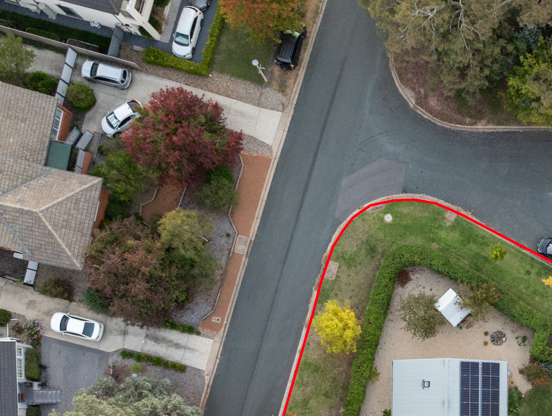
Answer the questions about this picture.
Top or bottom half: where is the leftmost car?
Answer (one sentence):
The leftmost car sits in the bottom half of the picture.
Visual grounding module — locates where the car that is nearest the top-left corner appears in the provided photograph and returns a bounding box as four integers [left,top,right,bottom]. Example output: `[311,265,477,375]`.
[80,59,135,94]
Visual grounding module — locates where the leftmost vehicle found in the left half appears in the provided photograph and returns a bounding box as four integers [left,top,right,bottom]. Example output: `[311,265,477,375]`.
[49,312,107,342]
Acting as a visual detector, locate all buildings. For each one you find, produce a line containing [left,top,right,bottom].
[0,314,61,416]
[434,288,470,327]
[23,0,180,60]
[390,357,509,416]
[0,82,110,271]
